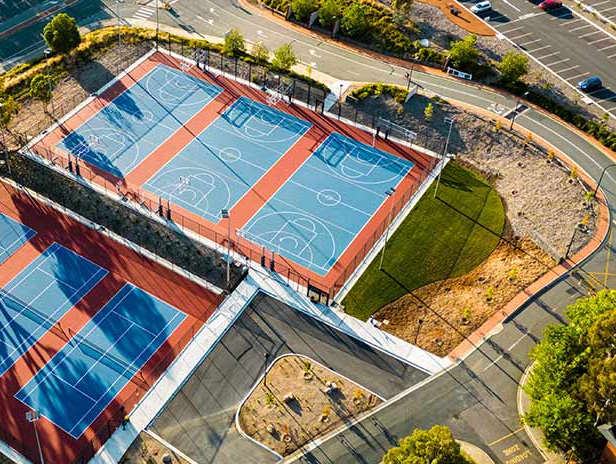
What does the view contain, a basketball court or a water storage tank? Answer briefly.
basketball court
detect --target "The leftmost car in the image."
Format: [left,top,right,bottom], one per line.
[471,1,493,14]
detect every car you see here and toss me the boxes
[541,0,562,11]
[471,1,493,14]
[579,76,603,92]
